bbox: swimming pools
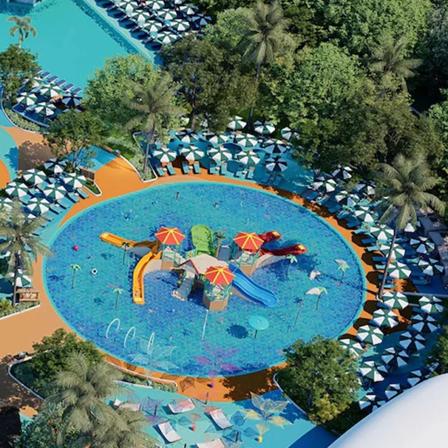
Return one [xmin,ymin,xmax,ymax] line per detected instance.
[0,0,160,91]
[47,182,363,374]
